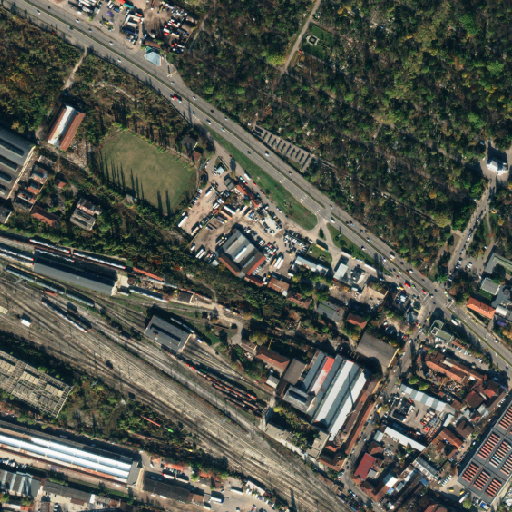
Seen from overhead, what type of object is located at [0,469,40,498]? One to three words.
building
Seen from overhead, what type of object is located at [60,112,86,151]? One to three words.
shed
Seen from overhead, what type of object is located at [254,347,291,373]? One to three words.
house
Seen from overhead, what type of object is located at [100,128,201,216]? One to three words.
sports field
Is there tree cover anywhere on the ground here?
Yes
